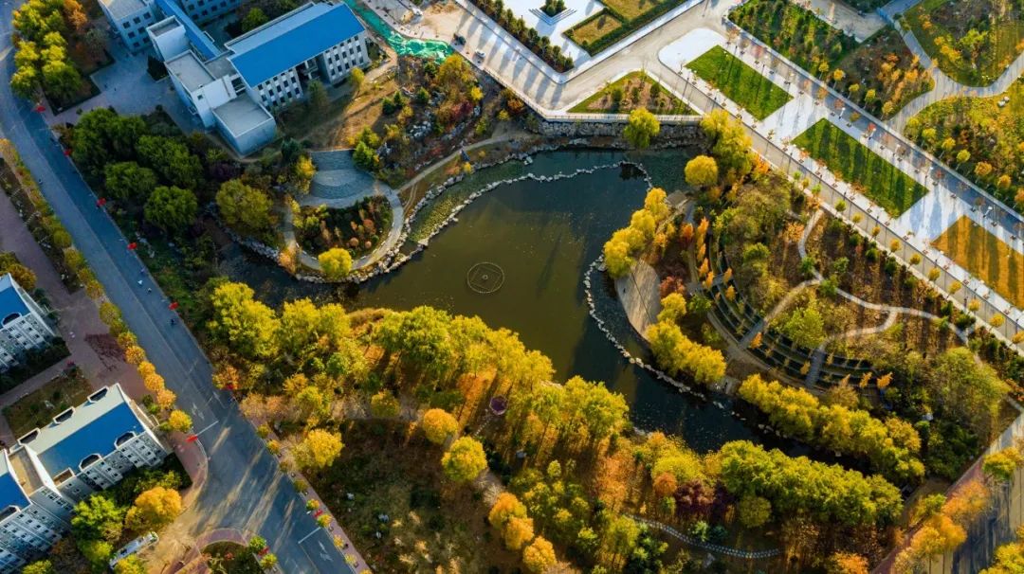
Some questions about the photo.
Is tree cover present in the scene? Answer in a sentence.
Yes, there's tree cover in this view.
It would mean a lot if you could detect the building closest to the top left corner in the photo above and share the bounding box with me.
[82,0,156,49]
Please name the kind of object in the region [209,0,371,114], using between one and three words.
building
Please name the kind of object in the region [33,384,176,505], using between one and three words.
building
